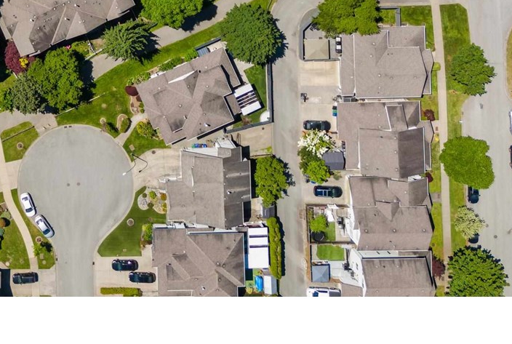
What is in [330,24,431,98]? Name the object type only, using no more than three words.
house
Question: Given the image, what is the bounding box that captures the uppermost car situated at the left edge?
[19,191,35,216]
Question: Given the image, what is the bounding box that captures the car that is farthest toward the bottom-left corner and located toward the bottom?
[12,270,39,285]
